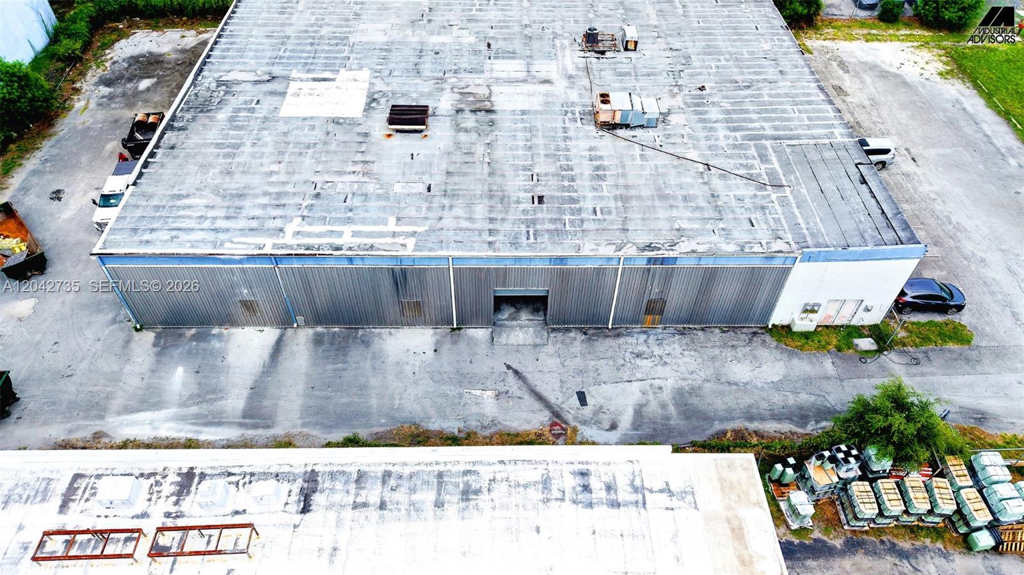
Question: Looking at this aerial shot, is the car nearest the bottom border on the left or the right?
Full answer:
The car nearest the bottom border sits on the right side.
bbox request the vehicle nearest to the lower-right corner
[894,279,968,315]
